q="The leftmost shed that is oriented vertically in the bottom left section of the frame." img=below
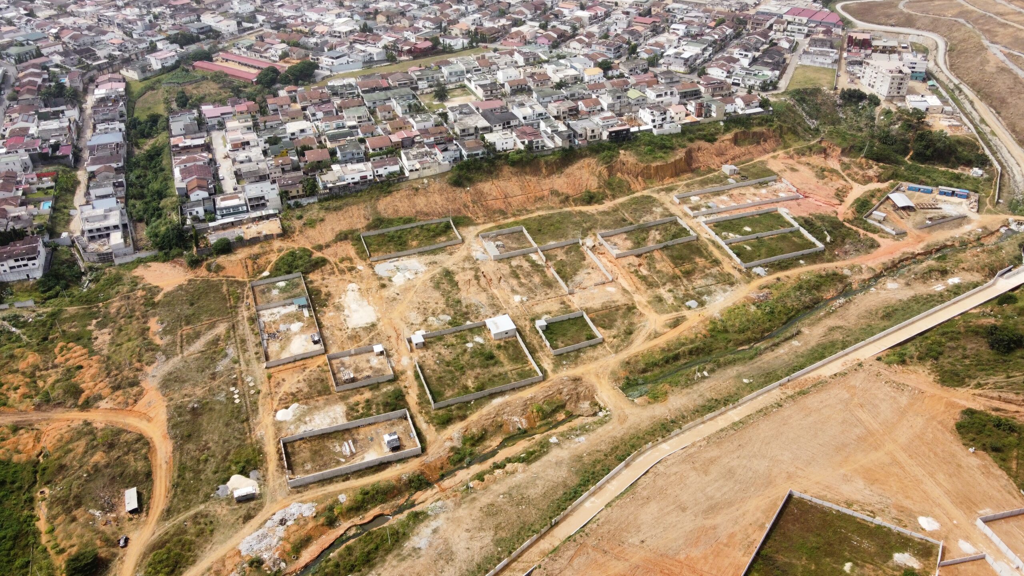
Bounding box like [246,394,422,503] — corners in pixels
[125,486,140,518]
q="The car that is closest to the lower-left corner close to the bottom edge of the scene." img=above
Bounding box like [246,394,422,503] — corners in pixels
[114,531,132,549]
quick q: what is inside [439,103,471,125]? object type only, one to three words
house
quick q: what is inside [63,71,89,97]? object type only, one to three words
house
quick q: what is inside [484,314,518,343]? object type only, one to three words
shed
